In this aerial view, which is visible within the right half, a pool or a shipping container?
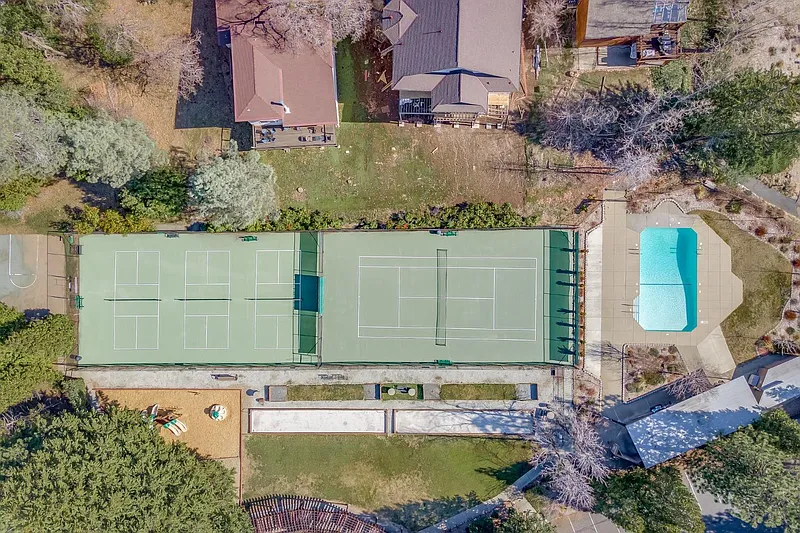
pool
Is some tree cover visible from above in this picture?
Yes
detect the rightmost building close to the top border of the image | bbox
[577,0,692,70]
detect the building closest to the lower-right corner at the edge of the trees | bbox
[626,351,800,467]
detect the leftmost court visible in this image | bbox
[0,234,66,334]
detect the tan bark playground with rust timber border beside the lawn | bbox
[98,388,241,509]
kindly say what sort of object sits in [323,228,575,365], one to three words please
tennis court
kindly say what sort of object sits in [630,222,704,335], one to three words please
swimming pool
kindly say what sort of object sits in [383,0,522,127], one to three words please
house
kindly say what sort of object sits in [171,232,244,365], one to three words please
sports court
